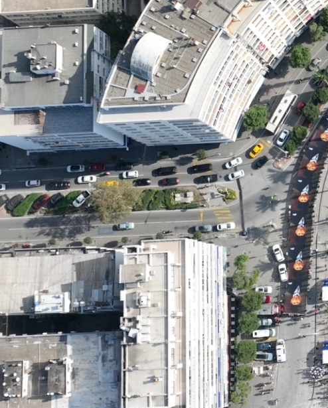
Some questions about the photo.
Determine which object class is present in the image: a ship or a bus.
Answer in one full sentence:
Visible in the photo is a bus.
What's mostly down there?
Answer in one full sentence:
For the most part, this view shows buildings.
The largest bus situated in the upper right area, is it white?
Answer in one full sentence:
Yes, white is the color of the largest bus situated in the upper right area.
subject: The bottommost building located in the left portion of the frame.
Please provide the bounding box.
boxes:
[0,331,123,408]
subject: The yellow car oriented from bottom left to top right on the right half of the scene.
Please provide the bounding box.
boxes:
[248,142,265,159]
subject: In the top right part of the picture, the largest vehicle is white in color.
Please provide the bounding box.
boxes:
[266,86,299,131]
